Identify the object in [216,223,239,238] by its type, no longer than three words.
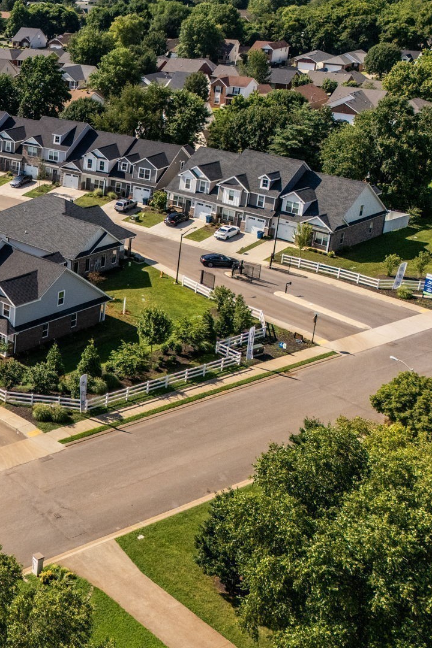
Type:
car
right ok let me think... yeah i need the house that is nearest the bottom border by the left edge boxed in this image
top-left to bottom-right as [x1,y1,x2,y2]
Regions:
[0,243,119,358]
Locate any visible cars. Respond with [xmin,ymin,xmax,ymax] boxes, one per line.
[164,210,186,224]
[7,174,30,186]
[196,253,238,270]
[113,195,136,211]
[216,223,239,238]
